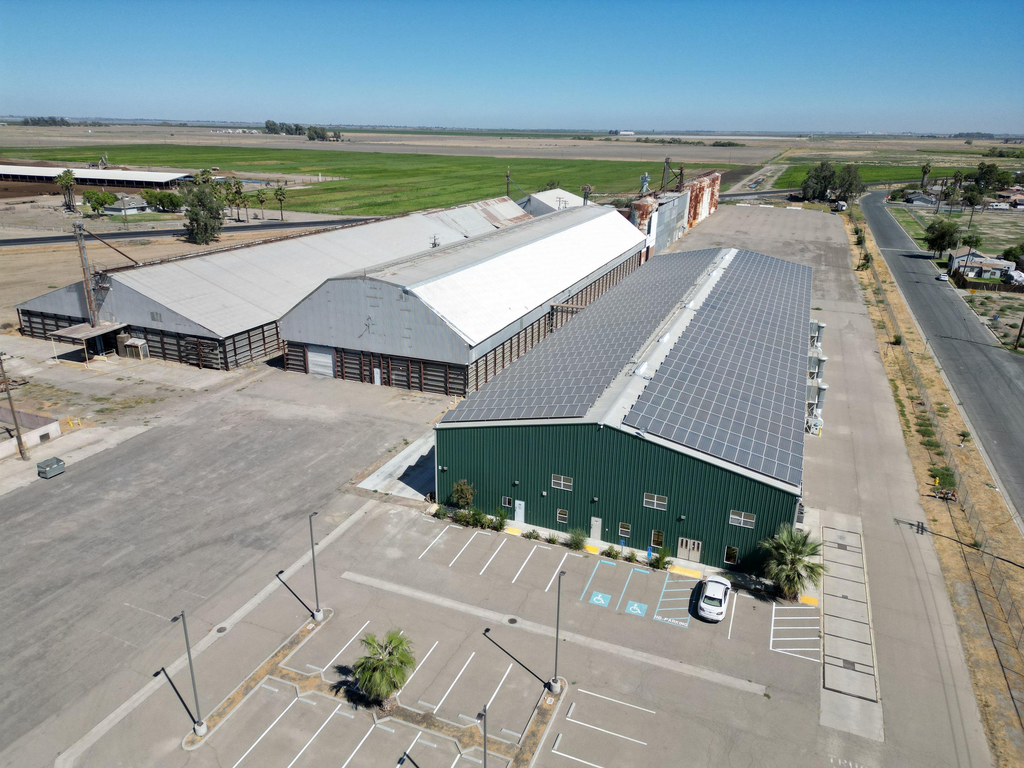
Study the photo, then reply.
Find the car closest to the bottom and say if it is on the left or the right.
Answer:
right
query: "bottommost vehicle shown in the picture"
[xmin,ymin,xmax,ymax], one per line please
[698,573,735,622]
